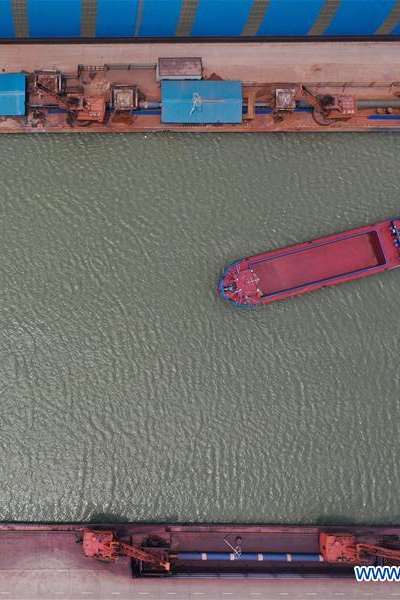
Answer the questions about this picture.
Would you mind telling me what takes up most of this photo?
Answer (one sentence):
For the most part, this view shows water.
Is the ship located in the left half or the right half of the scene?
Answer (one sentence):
You can find the ship on the right side of the picture.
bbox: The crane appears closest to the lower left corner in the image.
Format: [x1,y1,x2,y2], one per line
[77,523,171,570]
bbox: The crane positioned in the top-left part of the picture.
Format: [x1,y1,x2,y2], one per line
[33,80,106,125]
